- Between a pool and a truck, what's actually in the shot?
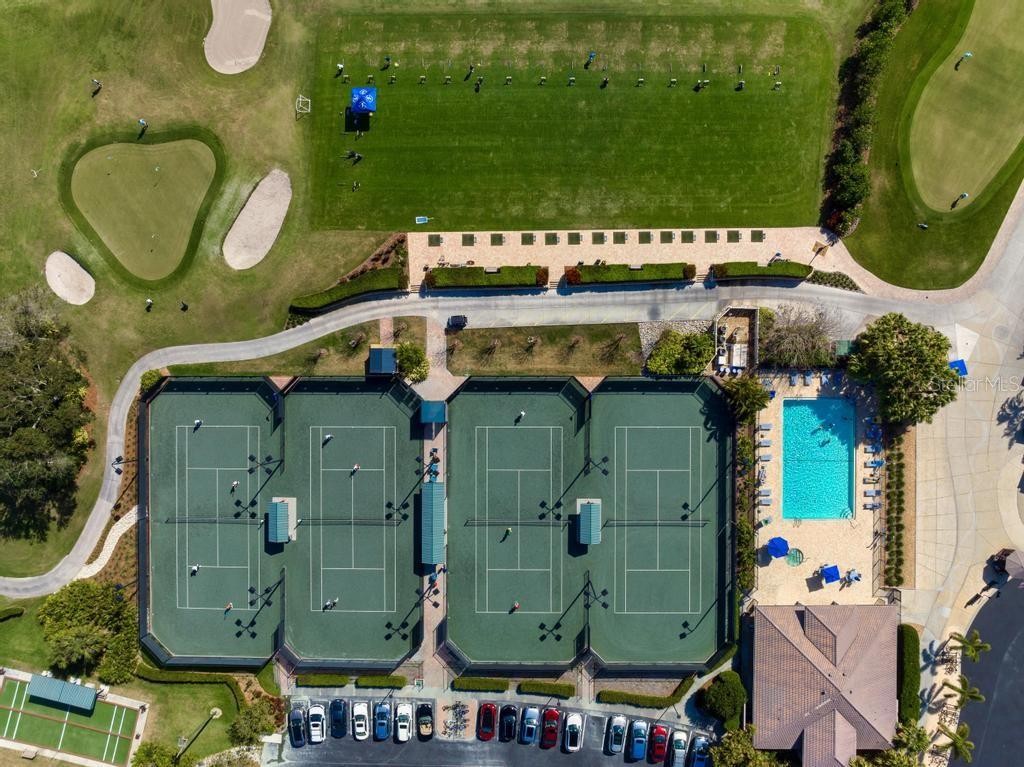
pool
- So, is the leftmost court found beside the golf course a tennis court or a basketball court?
tennis court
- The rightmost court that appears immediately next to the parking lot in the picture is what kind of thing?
tennis court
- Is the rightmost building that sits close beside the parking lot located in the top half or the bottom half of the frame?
bottom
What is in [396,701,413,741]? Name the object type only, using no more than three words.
car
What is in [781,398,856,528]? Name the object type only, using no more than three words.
swimming pool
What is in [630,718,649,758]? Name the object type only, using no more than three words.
car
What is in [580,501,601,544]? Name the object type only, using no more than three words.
building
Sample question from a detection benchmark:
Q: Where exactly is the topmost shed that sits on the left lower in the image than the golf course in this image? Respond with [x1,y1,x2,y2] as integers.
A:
[370,347,397,373]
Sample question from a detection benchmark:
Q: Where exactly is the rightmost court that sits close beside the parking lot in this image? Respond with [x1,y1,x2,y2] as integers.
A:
[588,378,728,663]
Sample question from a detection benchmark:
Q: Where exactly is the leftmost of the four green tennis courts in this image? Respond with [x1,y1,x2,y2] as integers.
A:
[149,378,283,657]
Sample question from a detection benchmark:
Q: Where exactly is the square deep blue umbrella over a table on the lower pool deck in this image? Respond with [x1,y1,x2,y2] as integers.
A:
[819,563,841,584]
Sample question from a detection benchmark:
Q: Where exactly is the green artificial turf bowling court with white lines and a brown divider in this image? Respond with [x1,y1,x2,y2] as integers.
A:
[0,667,149,767]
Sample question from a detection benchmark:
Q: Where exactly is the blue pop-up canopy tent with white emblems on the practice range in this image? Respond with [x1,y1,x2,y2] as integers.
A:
[352,88,379,118]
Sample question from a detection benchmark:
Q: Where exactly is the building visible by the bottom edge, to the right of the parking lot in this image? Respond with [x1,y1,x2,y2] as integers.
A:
[753,605,896,767]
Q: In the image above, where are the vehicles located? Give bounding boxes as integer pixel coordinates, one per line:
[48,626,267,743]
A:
[416,703,433,739]
[565,711,583,752]
[374,700,391,739]
[630,718,649,758]
[522,704,540,743]
[669,727,689,767]
[479,700,496,739]
[542,707,559,746]
[500,702,517,740]
[609,711,627,751]
[307,702,326,741]
[691,731,710,767]
[650,722,668,761]
[396,701,413,741]
[446,317,466,329]
[352,700,369,739]
[288,707,308,747]
[329,697,348,736]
